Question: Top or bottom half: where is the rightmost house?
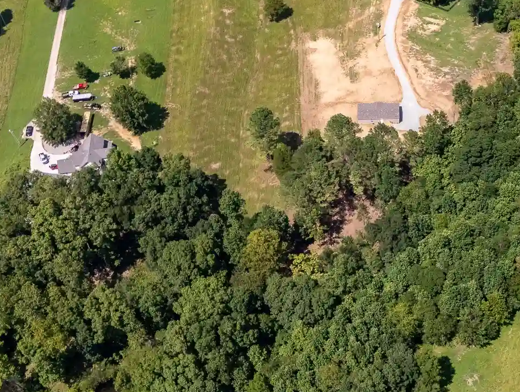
top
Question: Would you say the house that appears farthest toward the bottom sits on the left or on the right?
left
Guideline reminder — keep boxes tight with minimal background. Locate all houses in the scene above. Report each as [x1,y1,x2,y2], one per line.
[358,100,399,127]
[57,136,111,177]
